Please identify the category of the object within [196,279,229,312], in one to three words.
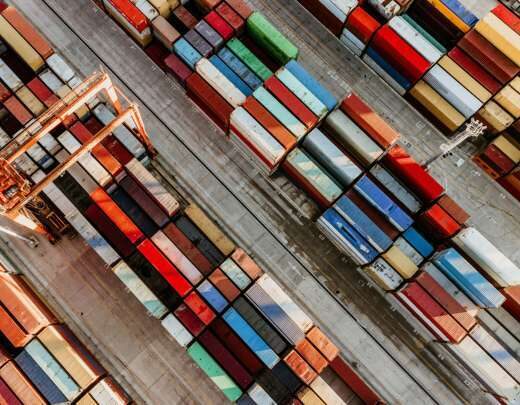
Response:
shipping container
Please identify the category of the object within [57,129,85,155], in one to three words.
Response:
shipping container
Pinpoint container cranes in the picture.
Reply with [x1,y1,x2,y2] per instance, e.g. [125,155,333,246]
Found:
[0,64,160,249]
